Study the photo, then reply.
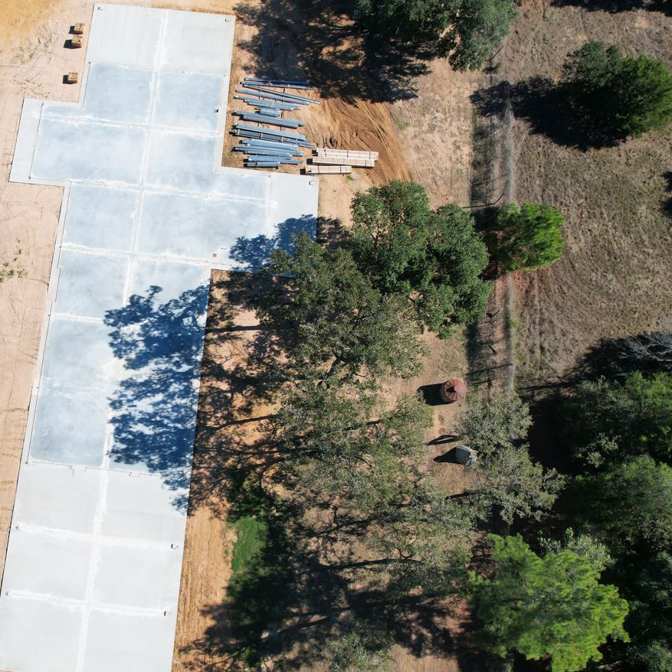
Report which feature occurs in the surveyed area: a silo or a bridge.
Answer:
silo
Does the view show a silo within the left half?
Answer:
No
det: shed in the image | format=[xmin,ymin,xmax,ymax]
[457,449,482,469]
